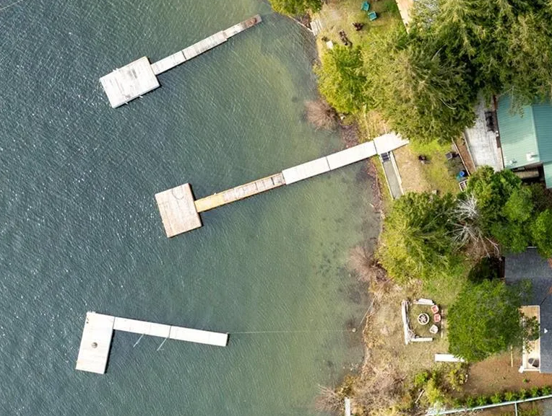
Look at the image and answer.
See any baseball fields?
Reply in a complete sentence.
No, I can't see a single baseball field in this photo.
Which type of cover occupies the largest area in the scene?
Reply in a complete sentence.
The scene is dominated by water.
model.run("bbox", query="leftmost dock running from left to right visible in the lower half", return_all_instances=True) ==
[76,312,229,374]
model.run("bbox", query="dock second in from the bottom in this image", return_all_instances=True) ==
[156,132,408,238]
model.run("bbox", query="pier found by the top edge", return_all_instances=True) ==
[100,15,263,108]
